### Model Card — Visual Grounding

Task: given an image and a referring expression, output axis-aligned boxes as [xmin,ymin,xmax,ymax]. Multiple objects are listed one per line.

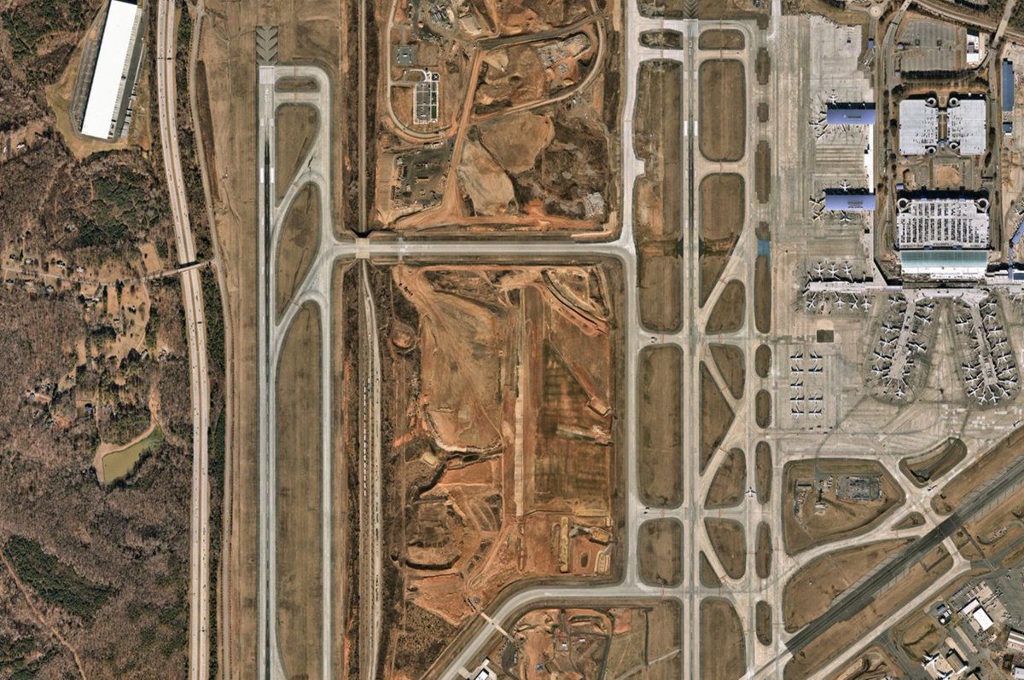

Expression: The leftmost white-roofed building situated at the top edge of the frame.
[81,0,137,138]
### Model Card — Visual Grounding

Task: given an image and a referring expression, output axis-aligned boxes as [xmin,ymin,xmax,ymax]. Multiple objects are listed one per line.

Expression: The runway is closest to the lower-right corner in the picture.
[785,454,1024,654]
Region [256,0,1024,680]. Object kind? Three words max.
airport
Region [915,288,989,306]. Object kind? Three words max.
building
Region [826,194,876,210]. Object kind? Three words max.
building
